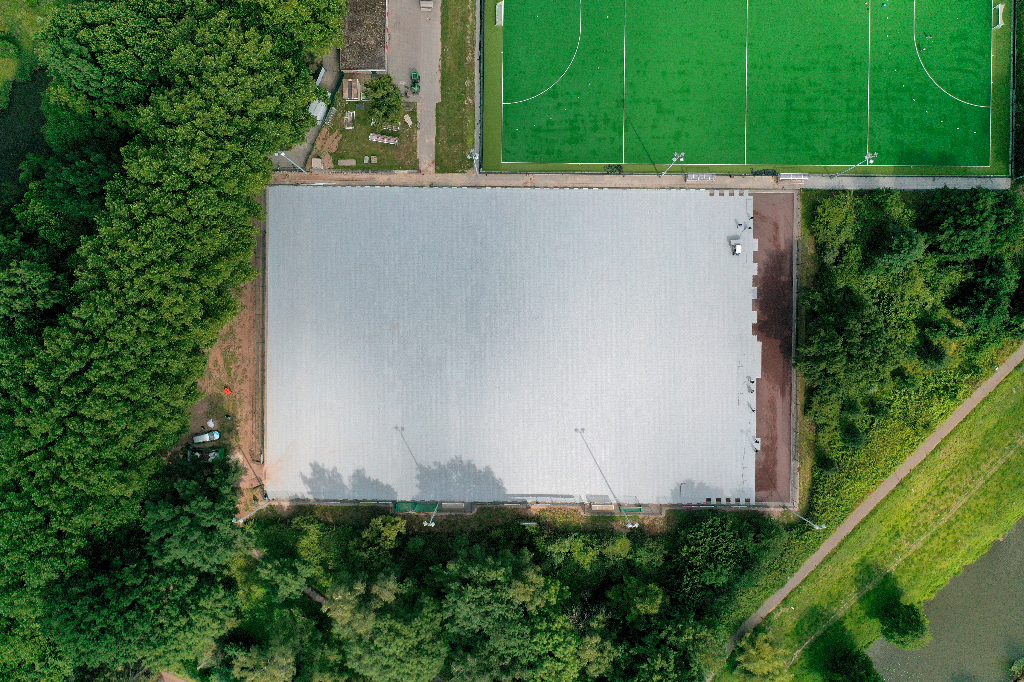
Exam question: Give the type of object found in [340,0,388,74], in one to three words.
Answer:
building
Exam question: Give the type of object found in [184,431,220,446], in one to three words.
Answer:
vehicle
